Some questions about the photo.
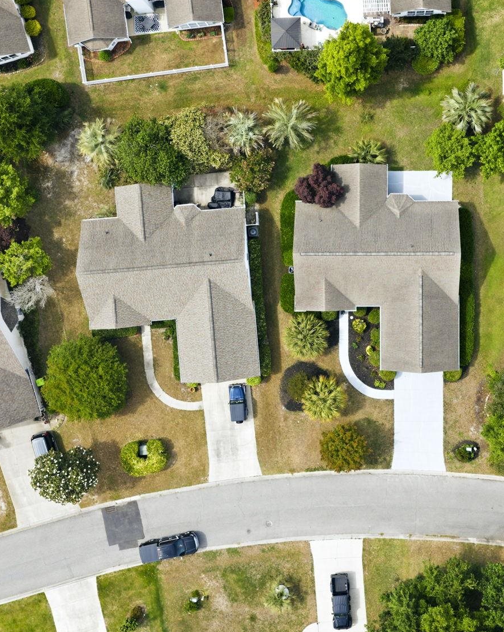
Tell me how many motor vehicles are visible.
4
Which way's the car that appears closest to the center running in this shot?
up and down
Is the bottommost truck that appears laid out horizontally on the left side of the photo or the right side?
left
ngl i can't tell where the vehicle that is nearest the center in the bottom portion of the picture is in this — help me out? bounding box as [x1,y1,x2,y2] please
[225,381,250,428]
